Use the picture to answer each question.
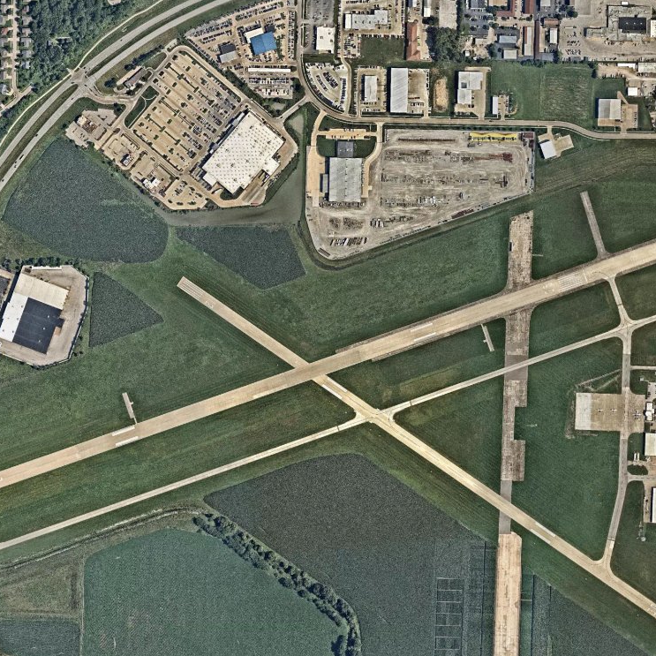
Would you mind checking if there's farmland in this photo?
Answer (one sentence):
Yes, there is farmland in the image.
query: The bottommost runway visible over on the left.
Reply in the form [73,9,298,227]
[0,357,352,489]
